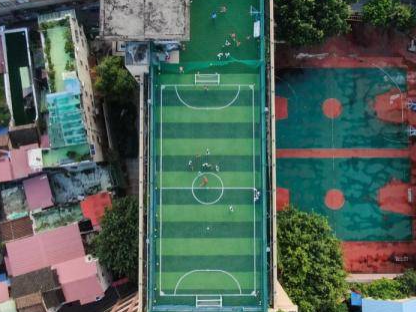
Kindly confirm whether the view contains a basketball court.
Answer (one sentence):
Yes, I can see a basketball court in this picture.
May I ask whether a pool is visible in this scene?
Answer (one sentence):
No, there appears to be no pool in this shot.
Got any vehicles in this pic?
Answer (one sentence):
No, the photo shows no vehicle.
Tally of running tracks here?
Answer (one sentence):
The count of running tracks is 0.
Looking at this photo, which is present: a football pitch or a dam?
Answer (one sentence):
The one in the frame is a football pitch.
